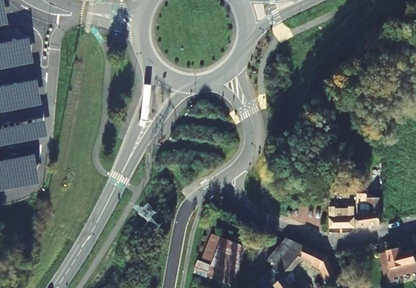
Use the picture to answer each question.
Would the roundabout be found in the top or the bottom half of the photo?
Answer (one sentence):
It is in the top half that the roundabout appears.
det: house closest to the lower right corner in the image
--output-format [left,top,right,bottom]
[380,248,416,280]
